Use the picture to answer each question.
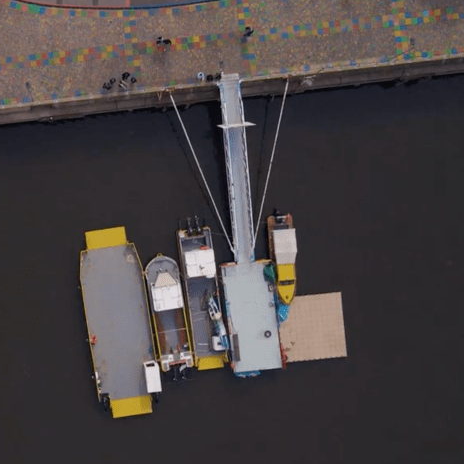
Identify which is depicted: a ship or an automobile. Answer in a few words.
ship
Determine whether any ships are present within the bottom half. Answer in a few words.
Yes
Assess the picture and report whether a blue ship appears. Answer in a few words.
No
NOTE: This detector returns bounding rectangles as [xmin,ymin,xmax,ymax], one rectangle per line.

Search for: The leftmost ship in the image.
[77,226,162,418]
